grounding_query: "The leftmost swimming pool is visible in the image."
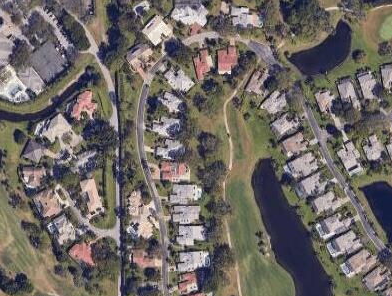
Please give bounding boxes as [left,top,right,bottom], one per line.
[0,67,31,103]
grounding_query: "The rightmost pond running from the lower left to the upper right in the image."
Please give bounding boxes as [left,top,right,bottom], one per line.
[288,19,352,75]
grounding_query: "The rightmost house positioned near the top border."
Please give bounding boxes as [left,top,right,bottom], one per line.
[231,7,260,27]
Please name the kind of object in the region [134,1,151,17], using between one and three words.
swimming pool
